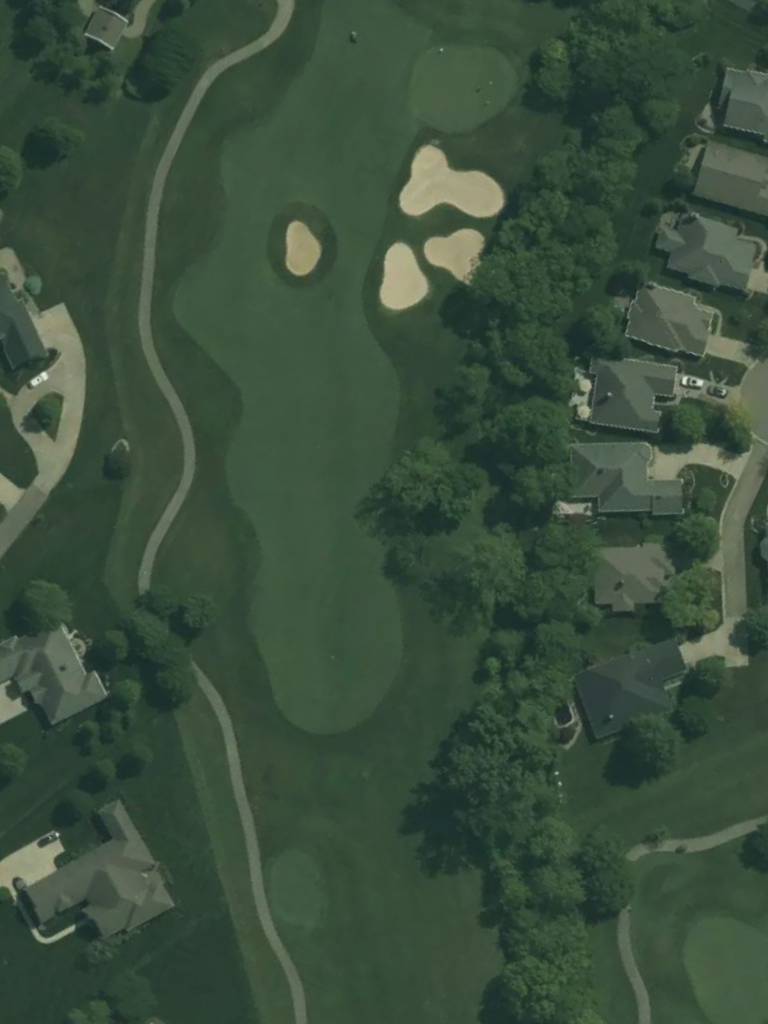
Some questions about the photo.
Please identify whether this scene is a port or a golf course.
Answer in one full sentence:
It's a golf course.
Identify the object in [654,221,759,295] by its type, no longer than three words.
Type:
house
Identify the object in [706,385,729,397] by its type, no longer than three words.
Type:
vehicle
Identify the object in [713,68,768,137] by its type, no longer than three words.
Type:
house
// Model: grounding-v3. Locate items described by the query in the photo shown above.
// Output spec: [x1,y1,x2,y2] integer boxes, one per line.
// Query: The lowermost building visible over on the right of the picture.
[575,639,688,739]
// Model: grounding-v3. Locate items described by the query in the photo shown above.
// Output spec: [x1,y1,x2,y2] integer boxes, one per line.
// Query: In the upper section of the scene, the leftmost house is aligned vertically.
[0,273,47,372]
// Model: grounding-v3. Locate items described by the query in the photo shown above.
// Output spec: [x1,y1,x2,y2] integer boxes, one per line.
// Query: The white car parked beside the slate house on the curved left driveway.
[28,372,49,389]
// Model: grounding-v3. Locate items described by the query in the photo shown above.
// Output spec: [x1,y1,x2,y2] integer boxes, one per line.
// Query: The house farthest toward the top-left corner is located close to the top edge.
[85,6,128,50]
